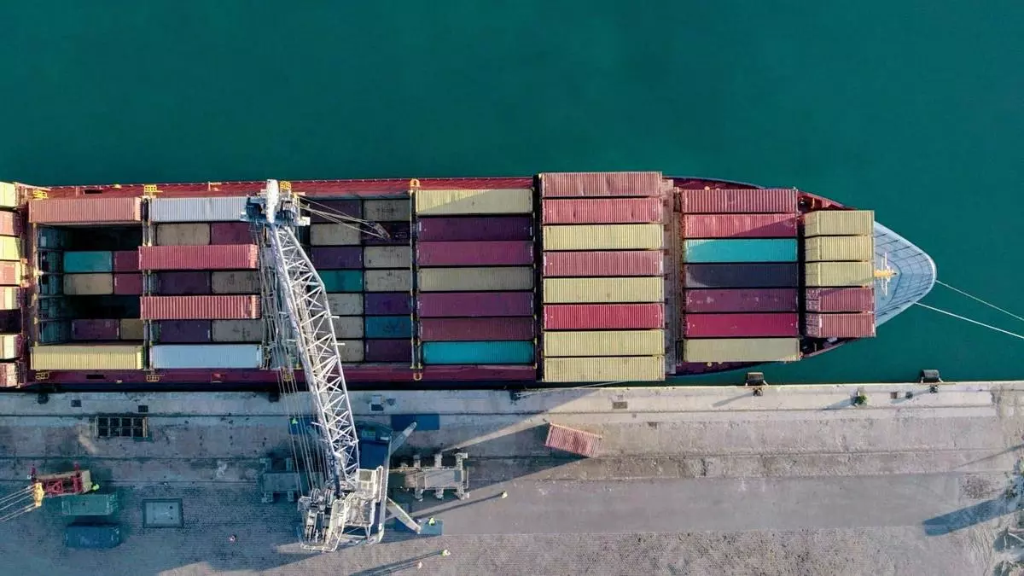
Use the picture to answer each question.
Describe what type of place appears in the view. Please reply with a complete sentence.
The picture captures a port.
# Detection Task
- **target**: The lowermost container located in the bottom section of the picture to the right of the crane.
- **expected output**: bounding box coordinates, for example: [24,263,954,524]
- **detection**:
[545,420,602,456]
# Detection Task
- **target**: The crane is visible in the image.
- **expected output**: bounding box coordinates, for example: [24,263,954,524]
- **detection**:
[240,178,470,554]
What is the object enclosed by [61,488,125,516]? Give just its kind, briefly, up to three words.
shipping container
